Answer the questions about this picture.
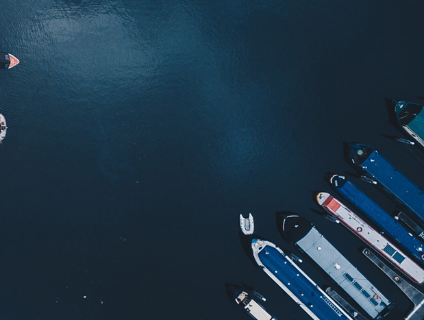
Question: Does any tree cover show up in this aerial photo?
No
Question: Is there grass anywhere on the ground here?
No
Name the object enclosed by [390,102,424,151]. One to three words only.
boat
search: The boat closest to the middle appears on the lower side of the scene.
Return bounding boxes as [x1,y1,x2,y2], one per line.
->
[240,212,254,235]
